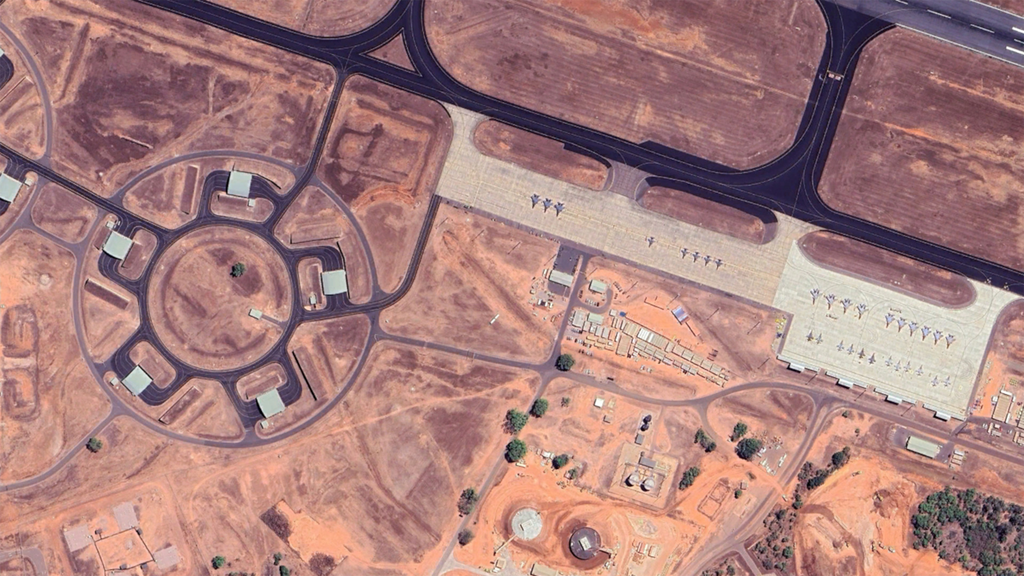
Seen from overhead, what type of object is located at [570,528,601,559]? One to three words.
storage tank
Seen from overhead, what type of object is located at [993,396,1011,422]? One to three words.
building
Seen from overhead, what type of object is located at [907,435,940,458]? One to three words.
shed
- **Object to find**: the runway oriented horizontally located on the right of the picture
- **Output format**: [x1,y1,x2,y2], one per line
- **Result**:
[843,0,1024,68]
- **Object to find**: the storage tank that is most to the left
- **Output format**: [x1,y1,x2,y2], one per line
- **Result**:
[512,508,543,539]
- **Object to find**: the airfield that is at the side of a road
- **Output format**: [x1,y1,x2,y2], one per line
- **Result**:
[0,0,1024,418]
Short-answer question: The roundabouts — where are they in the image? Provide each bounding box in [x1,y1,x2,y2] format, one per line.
[98,170,384,436]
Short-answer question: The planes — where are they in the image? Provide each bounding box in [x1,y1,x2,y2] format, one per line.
[915,368,923,377]
[856,304,867,320]
[933,330,943,344]
[894,361,901,372]
[837,340,844,352]
[543,197,553,212]
[943,378,951,388]
[857,350,865,360]
[647,237,655,248]
[555,201,565,216]
[884,313,894,328]
[531,193,541,207]
[868,355,876,365]
[693,252,700,263]
[921,326,931,340]
[841,299,852,315]
[903,364,911,373]
[809,289,821,306]
[815,335,823,345]
[825,294,836,310]
[909,321,918,337]
[931,377,939,388]
[885,357,893,368]
[681,248,689,258]
[897,317,907,331]
[715,259,723,270]
[806,331,813,341]
[945,334,955,349]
